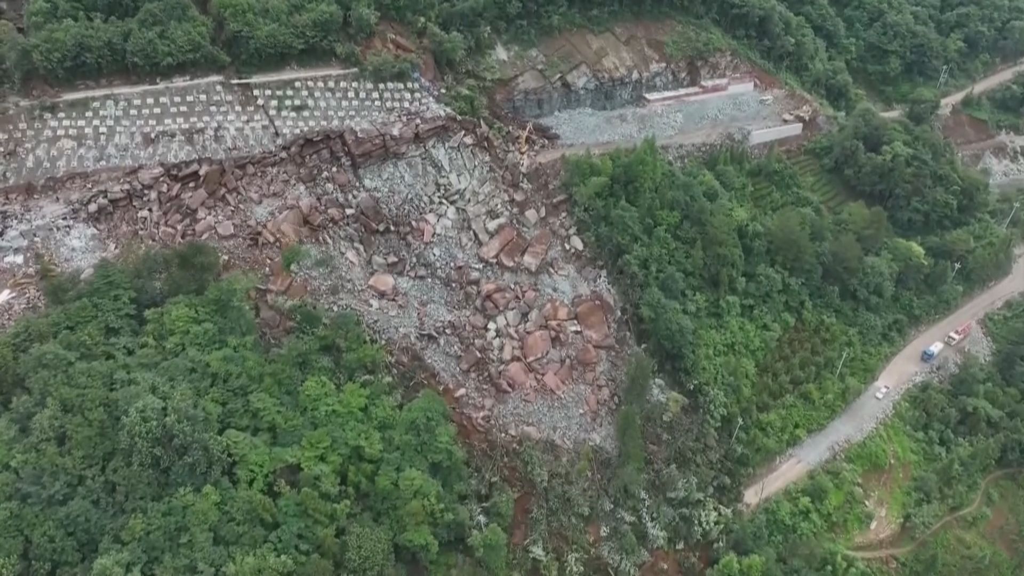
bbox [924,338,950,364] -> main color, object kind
white truck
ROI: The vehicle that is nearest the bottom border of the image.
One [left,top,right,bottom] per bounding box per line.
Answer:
[874,379,893,398]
